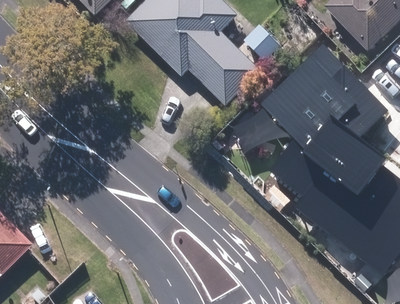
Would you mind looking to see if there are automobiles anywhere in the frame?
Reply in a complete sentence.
Yes, this view includes an automobile.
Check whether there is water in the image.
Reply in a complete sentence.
No, water can't be seen anywhere here.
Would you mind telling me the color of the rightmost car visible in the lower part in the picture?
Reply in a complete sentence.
From above, the rightmost car visible in the lower part appears blue.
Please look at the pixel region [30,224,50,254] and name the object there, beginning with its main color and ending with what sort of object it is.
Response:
white vehicle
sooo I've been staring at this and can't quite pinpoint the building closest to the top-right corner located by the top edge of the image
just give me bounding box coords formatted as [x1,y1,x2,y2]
[325,0,400,52]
